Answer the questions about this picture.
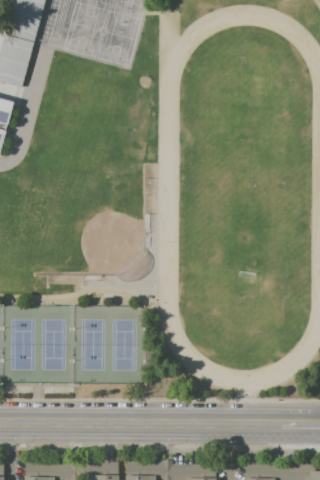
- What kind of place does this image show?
sports ground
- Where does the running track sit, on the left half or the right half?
right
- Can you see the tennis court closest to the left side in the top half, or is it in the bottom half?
bottom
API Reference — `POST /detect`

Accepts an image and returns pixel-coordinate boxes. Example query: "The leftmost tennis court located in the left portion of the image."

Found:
[9,320,36,370]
